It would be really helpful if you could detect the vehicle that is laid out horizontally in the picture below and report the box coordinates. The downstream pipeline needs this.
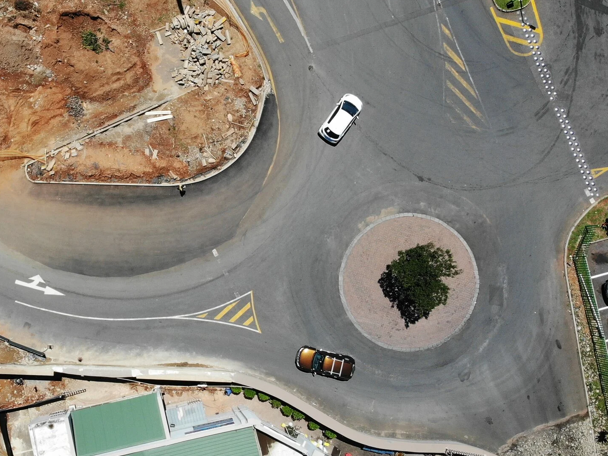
[293,345,357,382]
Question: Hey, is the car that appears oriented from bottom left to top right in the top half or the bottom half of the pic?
top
